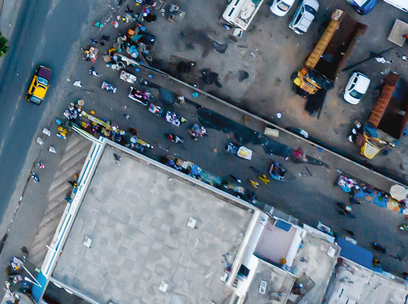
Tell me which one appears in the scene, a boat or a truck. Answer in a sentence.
Looking from above, you can make out a truck.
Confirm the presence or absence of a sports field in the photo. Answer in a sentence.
No, the picture doesn't show any sports field.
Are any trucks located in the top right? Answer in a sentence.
Yes, there is a truck in the top right.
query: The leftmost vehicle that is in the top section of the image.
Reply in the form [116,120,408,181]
[25,64,51,104]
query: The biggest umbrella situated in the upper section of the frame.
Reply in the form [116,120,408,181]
[139,29,158,48]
